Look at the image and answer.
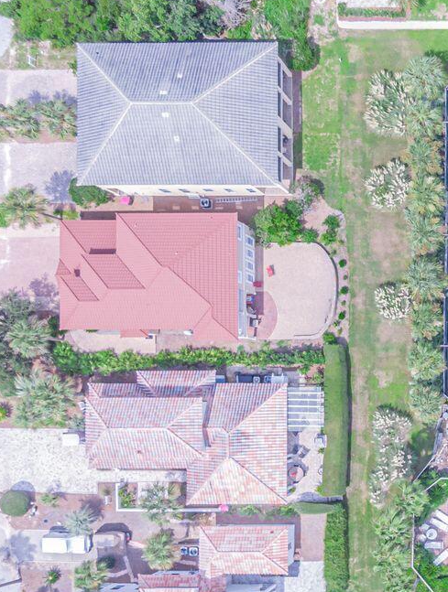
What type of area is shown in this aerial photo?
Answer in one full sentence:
It's a residential area.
